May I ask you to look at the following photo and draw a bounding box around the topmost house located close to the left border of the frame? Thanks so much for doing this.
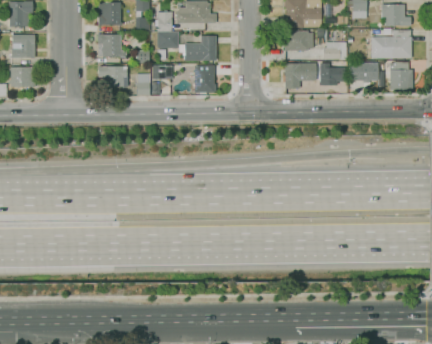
[10,0,34,26]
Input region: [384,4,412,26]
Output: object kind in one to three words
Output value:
house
